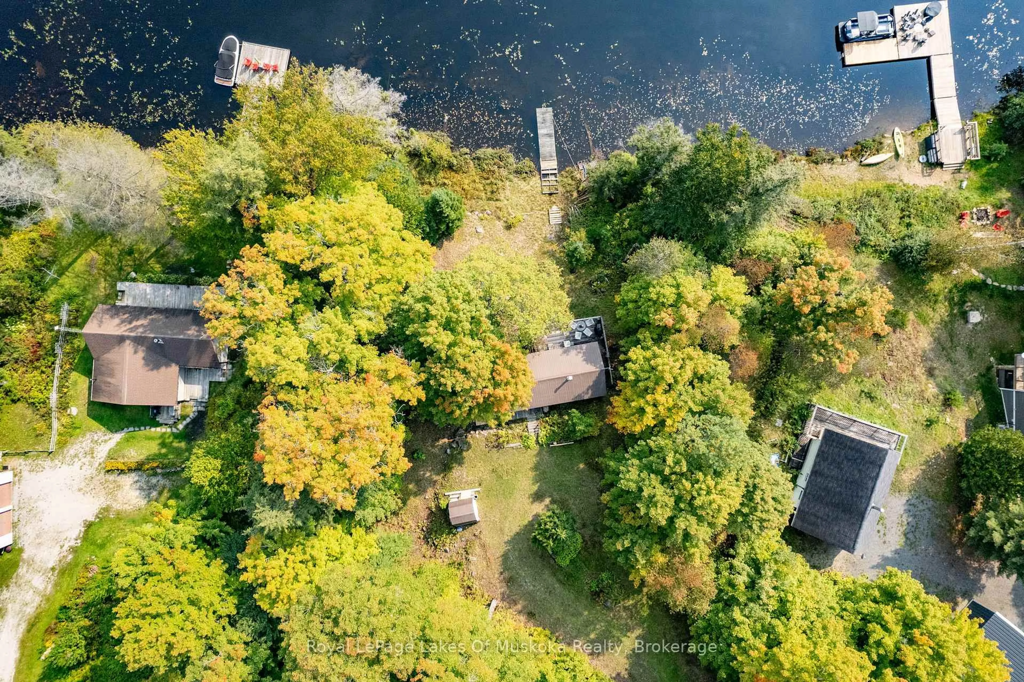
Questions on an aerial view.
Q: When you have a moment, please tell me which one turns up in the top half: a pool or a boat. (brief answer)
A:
boat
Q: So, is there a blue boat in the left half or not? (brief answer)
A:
No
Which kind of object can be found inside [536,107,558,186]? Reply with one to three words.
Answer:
pier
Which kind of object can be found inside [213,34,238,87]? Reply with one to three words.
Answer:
boat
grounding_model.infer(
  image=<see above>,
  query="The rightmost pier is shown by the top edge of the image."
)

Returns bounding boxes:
[840,0,962,127]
